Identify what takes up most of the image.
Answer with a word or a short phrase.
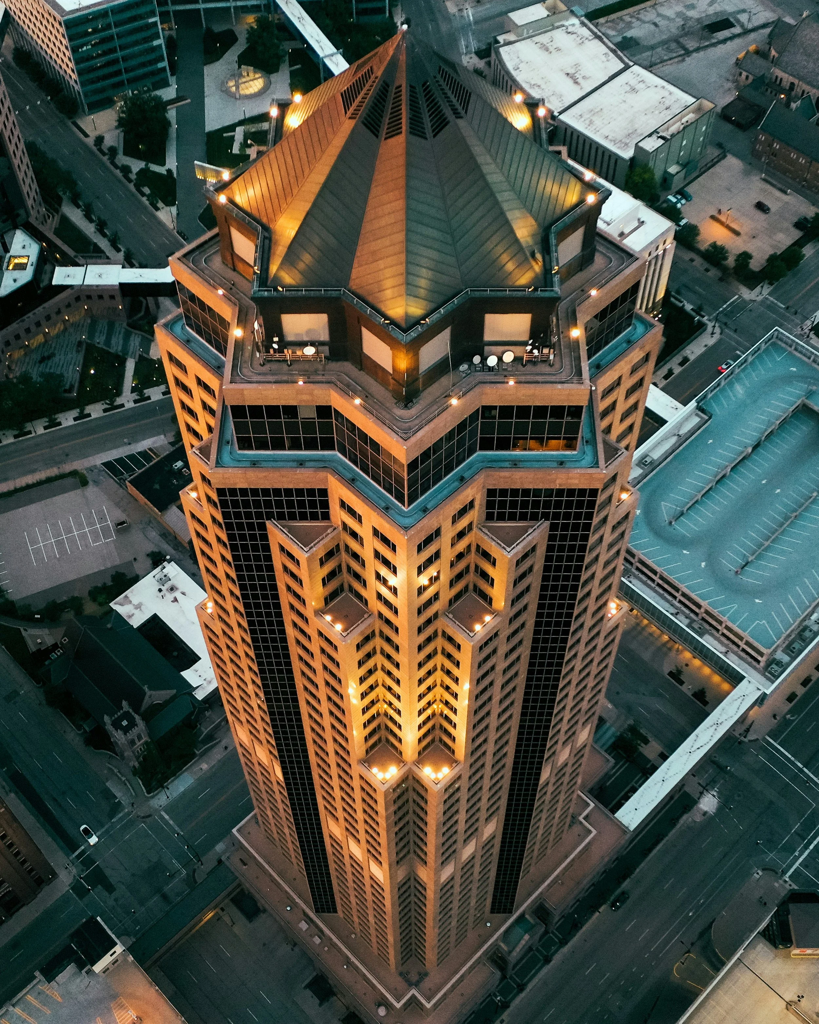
buildings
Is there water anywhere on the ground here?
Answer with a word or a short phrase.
No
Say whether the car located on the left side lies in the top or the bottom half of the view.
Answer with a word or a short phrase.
bottom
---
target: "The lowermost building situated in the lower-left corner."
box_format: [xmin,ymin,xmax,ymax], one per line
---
[1,918,186,1024]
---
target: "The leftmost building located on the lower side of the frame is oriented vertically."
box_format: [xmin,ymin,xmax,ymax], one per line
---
[0,803,55,922]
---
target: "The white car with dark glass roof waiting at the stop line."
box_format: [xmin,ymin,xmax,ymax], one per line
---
[77,819,103,846]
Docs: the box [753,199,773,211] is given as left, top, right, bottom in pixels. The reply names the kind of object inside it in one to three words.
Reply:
vehicle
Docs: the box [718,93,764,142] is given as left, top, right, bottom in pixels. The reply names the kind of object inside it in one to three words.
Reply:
building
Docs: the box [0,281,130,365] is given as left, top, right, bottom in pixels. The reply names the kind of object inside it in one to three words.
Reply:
building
